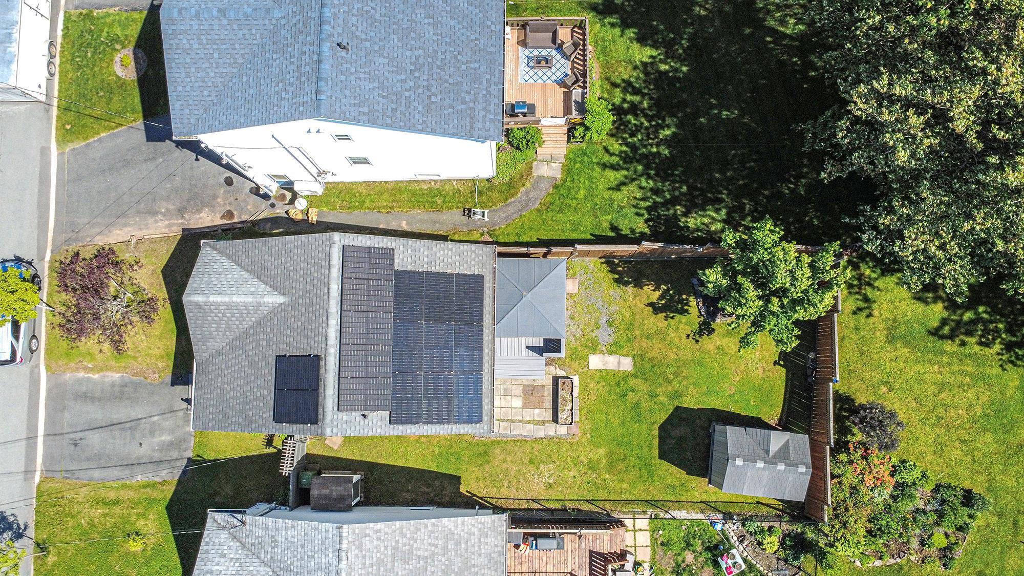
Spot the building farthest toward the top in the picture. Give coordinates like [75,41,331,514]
[154,0,508,192]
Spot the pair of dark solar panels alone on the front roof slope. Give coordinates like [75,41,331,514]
[274,355,322,424]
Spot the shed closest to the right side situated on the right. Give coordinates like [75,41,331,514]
[700,423,812,501]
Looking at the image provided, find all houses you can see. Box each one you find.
[154,0,508,192]
[181,231,498,437]
[195,496,511,576]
